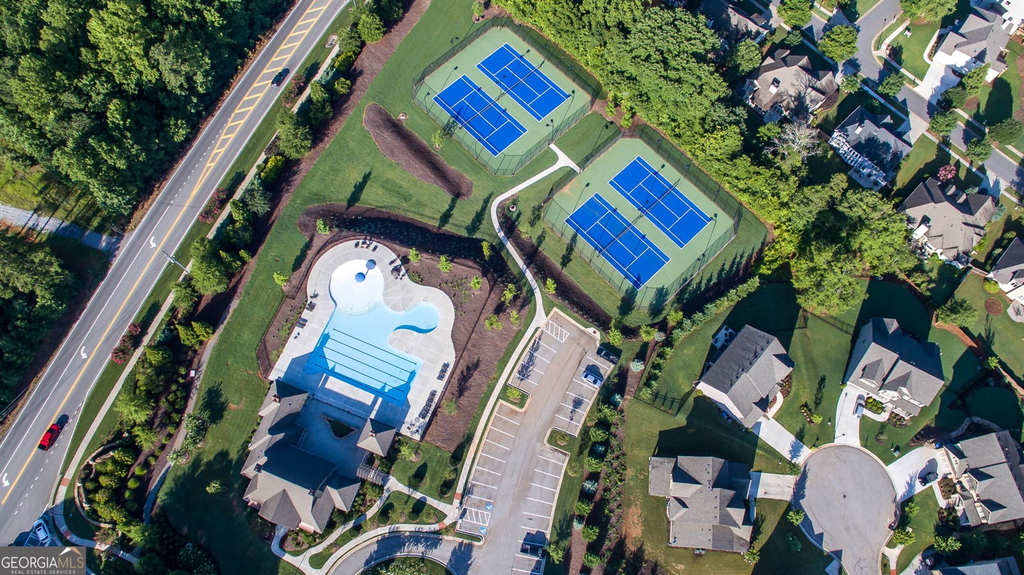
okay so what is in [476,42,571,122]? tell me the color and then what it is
blue tennis court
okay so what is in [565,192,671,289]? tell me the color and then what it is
blue tennis court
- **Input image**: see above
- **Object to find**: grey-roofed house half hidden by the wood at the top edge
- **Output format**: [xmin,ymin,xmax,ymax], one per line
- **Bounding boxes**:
[699,0,770,52]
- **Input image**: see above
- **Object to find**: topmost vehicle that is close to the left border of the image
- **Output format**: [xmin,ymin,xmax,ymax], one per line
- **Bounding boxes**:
[35,423,60,452]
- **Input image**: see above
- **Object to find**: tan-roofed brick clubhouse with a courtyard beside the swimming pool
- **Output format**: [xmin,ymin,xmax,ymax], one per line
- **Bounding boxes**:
[236,380,363,534]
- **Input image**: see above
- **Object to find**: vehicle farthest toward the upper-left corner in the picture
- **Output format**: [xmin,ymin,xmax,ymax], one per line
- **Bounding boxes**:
[271,68,288,85]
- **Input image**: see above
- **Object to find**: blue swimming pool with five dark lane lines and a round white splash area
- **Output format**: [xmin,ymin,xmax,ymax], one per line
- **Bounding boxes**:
[267,239,456,482]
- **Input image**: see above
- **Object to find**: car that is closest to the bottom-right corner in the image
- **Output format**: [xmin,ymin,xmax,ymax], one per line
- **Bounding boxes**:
[919,551,946,572]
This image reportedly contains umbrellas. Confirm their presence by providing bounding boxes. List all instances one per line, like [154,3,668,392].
[387,264,401,277]
[411,415,421,426]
